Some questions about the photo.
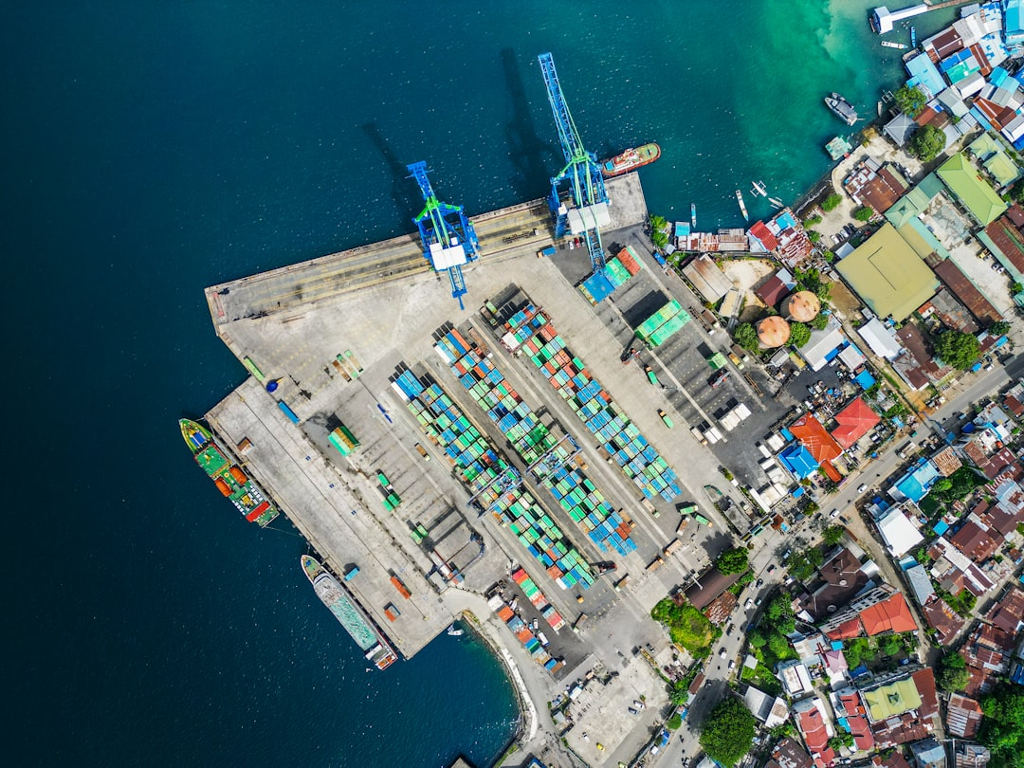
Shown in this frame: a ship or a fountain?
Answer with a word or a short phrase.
ship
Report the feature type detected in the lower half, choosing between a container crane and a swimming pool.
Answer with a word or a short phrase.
container crane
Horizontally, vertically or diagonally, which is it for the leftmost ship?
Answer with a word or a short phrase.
diagonally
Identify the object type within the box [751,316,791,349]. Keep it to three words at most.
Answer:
storage tank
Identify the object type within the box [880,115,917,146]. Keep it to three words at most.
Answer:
house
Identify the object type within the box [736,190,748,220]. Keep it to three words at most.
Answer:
boat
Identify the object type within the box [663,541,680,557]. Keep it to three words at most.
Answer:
vehicle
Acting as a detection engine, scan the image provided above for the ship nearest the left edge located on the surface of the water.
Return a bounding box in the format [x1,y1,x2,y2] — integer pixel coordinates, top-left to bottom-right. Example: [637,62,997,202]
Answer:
[179,420,278,527]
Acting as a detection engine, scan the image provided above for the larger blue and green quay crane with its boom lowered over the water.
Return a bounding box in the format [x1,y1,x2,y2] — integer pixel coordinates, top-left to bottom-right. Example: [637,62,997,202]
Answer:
[538,48,612,279]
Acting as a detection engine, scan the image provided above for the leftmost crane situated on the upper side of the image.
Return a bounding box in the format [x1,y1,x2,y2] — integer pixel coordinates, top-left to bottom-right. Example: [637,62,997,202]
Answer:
[406,160,483,311]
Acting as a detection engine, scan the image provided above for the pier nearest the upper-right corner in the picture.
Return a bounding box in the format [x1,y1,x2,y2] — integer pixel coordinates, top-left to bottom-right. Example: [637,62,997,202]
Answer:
[871,0,957,35]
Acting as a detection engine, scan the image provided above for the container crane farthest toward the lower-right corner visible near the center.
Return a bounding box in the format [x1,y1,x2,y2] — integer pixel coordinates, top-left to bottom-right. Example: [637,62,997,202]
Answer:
[523,430,580,486]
